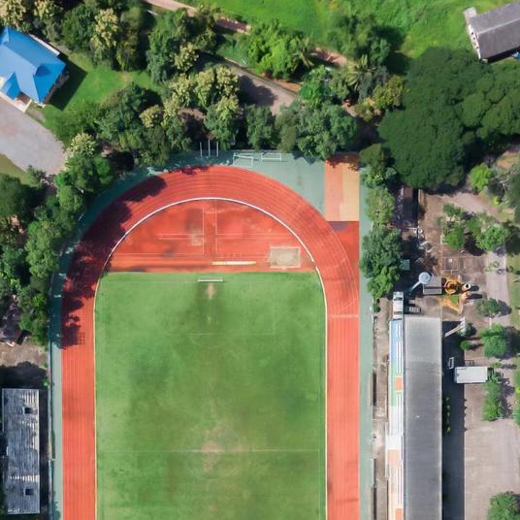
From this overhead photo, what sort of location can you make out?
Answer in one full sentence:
This looks like a sports ground.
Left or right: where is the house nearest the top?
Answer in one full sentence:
You can find the house nearest the top on the right side of the picture.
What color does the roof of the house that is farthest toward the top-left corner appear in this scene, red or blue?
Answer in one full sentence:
From above, the roof of the house that is farthest toward the top-left corner appears blue.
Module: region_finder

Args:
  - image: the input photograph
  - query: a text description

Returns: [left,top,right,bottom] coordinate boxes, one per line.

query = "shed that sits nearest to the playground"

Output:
[423,277,442,296]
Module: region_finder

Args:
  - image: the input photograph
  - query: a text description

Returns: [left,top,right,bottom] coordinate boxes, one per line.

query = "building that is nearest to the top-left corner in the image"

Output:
[0,26,66,110]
